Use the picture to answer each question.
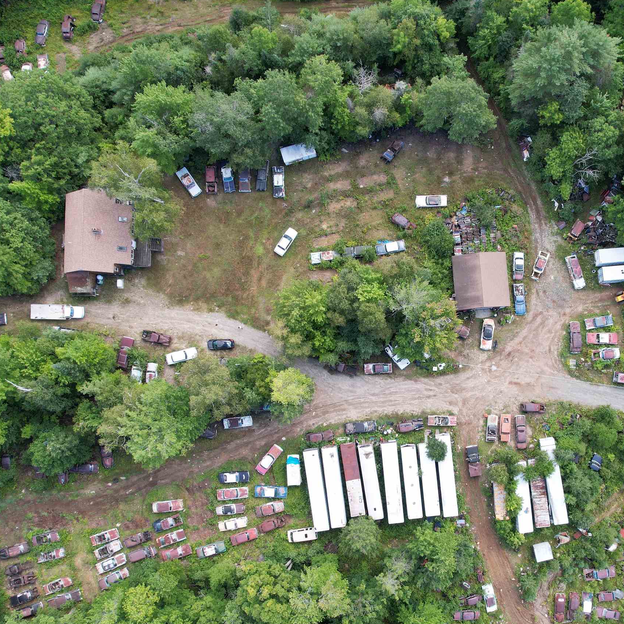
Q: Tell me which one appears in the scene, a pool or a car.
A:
car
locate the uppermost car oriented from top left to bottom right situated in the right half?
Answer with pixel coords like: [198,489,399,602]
[392,212,414,232]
